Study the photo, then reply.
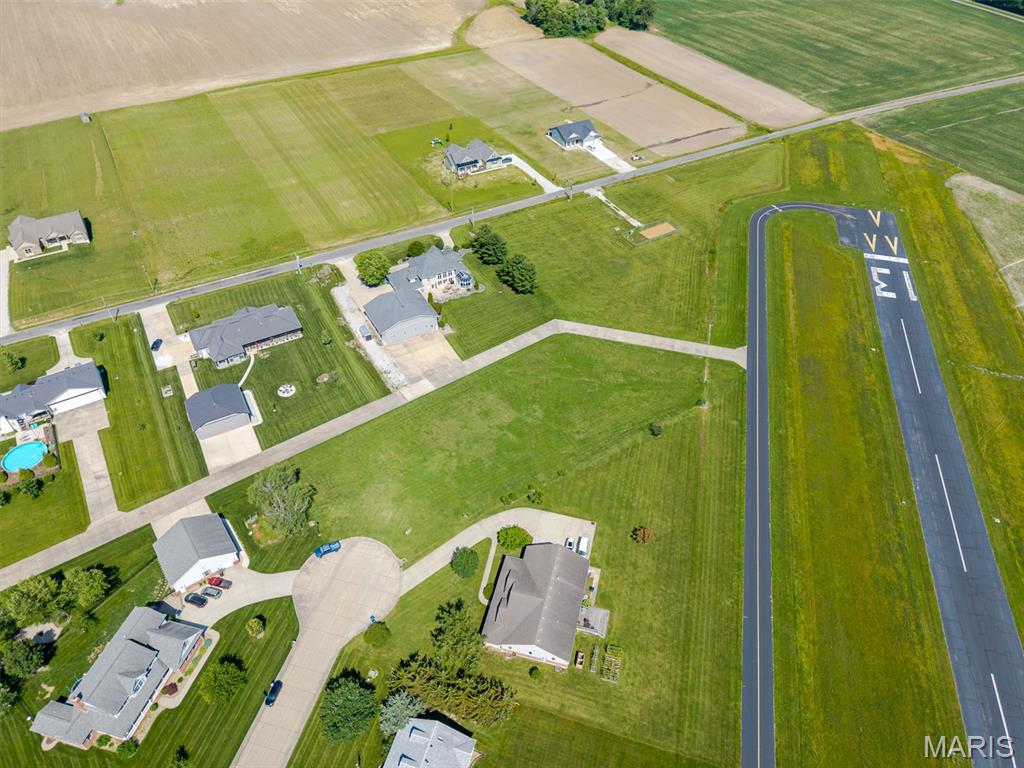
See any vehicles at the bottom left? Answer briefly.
Yes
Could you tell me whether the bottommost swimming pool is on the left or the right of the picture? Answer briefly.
left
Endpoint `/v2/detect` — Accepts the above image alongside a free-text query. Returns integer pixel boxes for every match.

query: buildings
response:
[385,718,477,768]
[0,359,105,439]
[477,545,591,667]
[363,244,476,340]
[547,119,602,148]
[153,513,239,592]
[443,141,507,179]
[8,214,93,261]
[188,304,305,366]
[29,606,200,750]
[186,384,250,437]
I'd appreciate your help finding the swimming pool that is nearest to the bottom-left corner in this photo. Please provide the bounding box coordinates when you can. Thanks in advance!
[1,443,49,471]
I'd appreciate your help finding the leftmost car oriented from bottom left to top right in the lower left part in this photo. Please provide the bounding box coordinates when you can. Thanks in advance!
[261,678,285,705]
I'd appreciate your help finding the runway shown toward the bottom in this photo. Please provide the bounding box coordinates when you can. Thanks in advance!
[864,213,1024,768]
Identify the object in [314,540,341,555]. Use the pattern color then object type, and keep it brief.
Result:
blue vehicle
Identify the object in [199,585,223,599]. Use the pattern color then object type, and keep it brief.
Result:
gray car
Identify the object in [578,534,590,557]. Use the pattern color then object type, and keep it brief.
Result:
white vehicle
